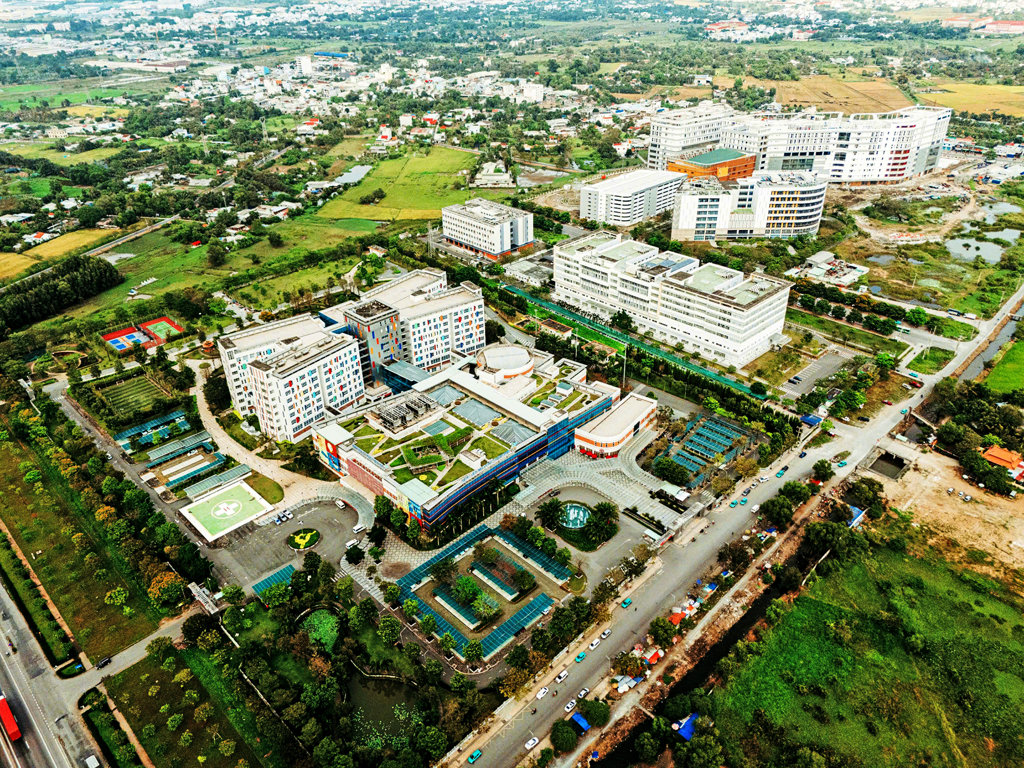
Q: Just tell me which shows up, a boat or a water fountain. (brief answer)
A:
water fountain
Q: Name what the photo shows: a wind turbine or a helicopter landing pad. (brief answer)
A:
helicopter landing pad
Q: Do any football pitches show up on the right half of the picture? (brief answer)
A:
No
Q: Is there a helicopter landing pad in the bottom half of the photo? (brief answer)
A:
Yes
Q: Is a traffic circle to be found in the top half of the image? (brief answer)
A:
No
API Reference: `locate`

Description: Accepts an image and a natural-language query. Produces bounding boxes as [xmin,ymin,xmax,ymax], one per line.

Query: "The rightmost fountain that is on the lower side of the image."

[558,503,592,527]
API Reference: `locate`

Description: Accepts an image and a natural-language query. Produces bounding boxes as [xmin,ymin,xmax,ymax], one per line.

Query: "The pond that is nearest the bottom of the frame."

[347,677,425,749]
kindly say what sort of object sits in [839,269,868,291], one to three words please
shed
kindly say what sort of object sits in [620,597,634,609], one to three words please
vehicle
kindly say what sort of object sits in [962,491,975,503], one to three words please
vehicle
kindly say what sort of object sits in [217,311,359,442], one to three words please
building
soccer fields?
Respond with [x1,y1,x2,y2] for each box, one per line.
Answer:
[95,374,174,417]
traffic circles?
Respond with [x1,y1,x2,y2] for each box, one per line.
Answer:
[285,526,323,552]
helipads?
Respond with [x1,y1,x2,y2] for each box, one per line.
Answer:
[179,480,275,543]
